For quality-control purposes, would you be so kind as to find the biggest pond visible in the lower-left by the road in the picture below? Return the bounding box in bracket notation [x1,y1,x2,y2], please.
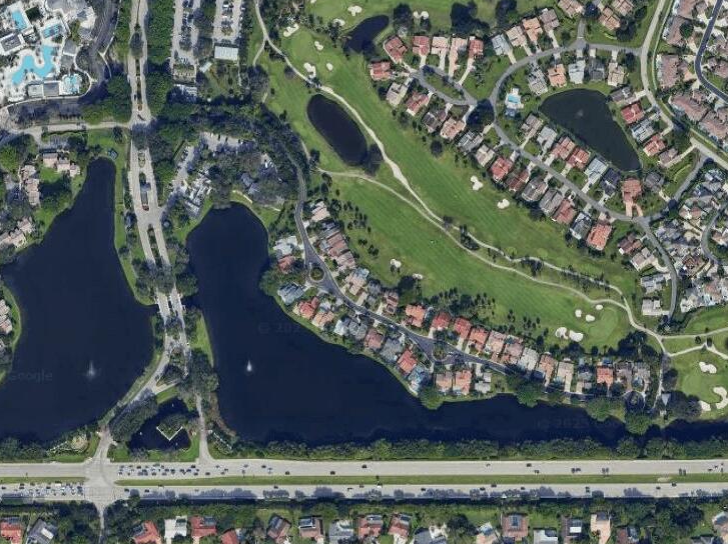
[129,397,193,450]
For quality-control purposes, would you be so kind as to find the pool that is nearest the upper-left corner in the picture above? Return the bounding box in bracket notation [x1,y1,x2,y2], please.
[10,10,28,31]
